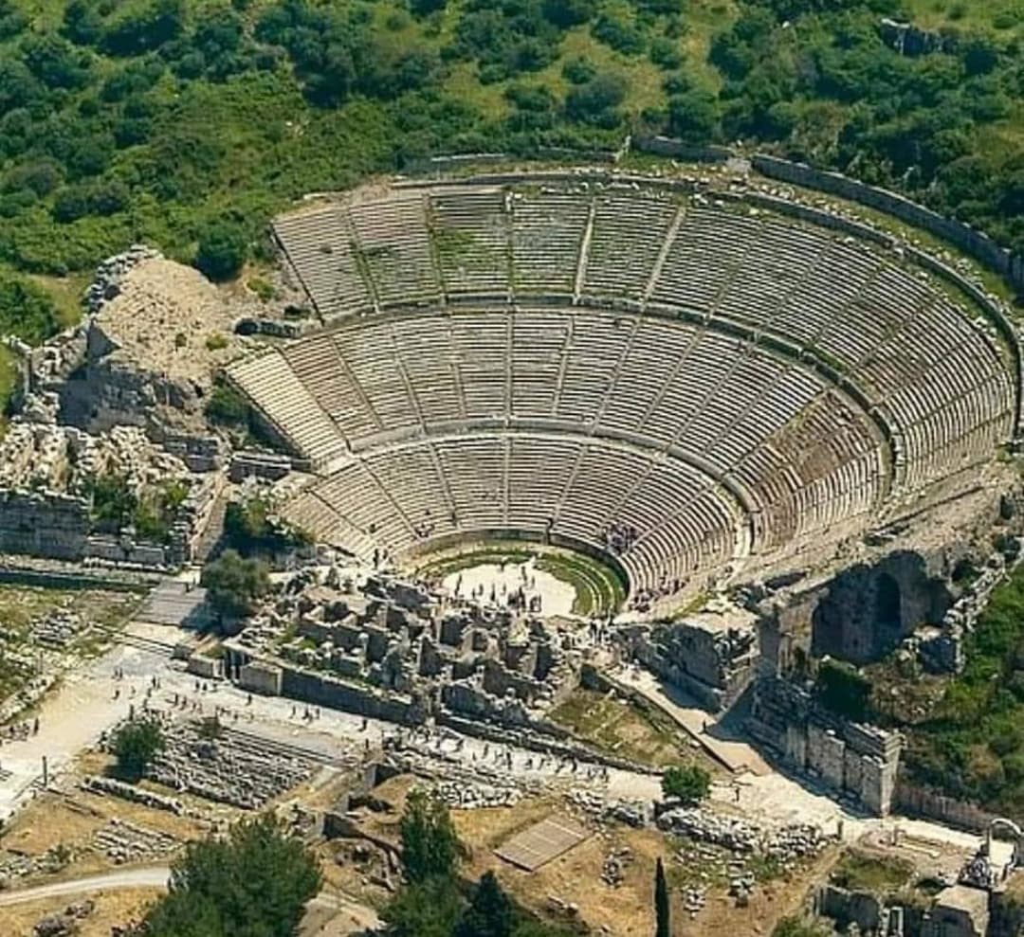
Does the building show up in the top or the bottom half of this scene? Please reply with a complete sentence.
It is in the bottom half that the building appears.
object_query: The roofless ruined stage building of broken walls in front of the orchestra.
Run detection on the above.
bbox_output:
[236,581,573,746]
